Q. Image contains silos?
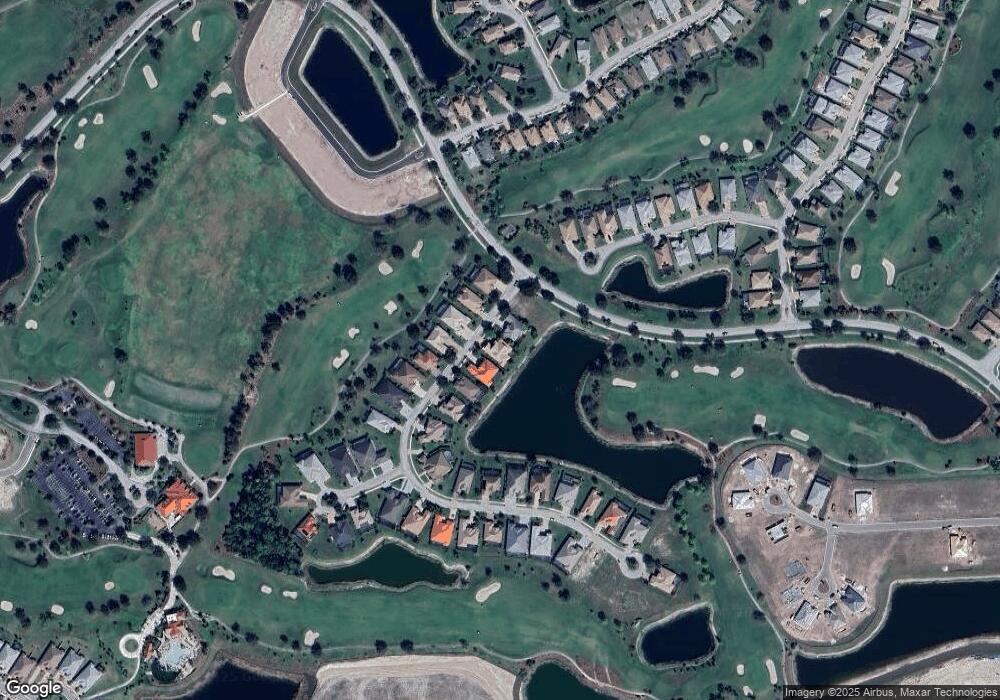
No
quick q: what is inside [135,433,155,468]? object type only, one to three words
building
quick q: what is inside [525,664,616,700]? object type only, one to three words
pond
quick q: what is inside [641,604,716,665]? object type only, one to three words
pond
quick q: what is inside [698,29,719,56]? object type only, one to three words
house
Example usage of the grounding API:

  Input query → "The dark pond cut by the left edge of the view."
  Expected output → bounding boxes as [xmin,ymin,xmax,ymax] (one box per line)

[0,175,49,287]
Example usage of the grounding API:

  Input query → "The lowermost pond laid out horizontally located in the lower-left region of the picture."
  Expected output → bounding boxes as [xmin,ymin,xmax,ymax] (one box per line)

[182,660,300,700]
